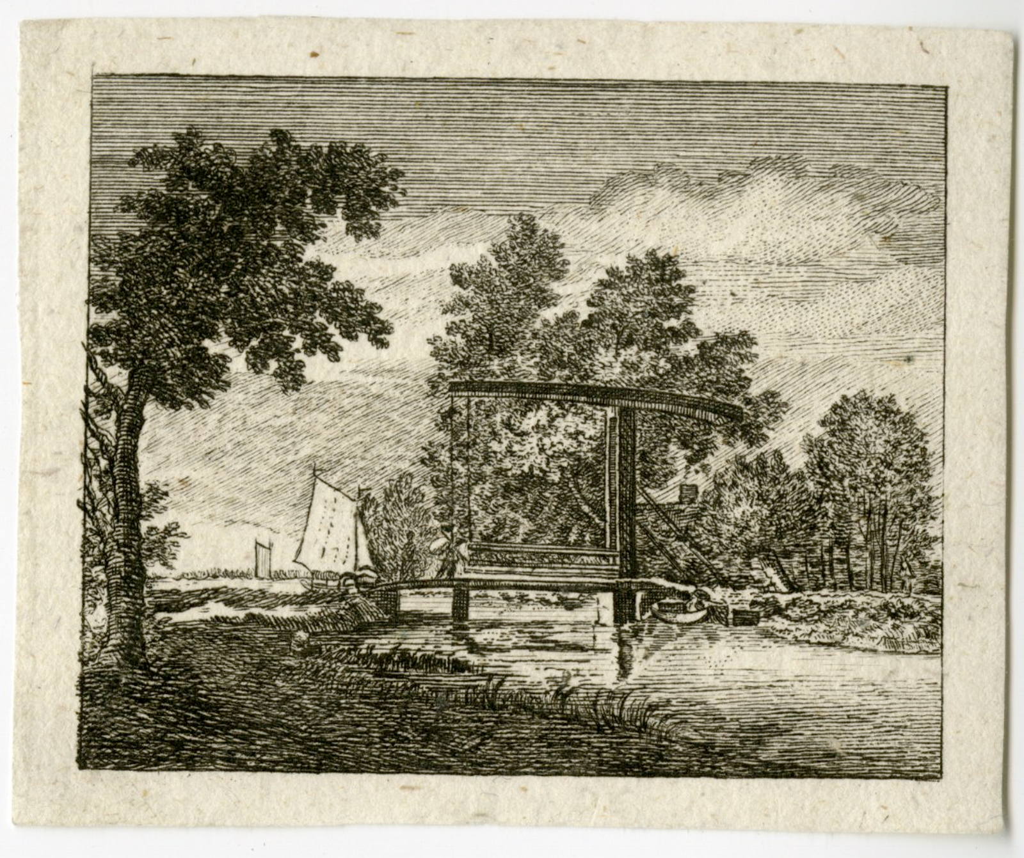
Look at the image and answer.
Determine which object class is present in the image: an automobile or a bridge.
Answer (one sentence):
This aerial view contains a bridge.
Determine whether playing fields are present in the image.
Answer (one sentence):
No, there is no playing field in the image.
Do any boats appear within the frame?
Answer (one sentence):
Yes, there is a boat in the image.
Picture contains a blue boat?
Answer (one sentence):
No, the frame has no blue boat in it.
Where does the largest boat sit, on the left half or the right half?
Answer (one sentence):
You can find the largest boat on the left side of the picture.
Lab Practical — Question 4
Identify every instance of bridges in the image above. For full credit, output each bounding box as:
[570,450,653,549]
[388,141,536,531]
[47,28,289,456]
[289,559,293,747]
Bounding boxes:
[360,381,744,625]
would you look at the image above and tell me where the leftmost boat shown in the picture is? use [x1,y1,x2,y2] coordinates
[255,539,272,580]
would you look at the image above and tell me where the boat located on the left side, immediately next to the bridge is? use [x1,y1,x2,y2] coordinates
[293,465,379,596]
